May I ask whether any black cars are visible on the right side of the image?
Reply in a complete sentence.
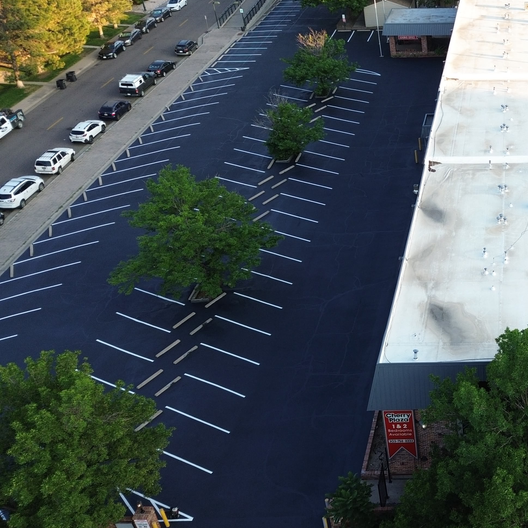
No, there is no black car on the right side of the image.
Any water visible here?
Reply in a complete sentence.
No, water can't be seen anywhere here.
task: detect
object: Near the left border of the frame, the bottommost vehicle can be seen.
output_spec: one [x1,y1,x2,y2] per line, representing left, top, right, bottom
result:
[0,179,42,213]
